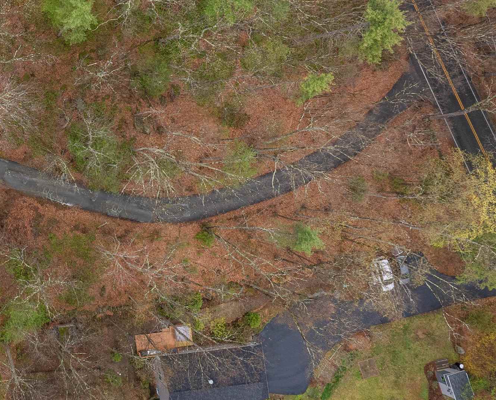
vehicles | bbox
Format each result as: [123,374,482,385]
[392,255,410,284]
[370,256,393,290]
